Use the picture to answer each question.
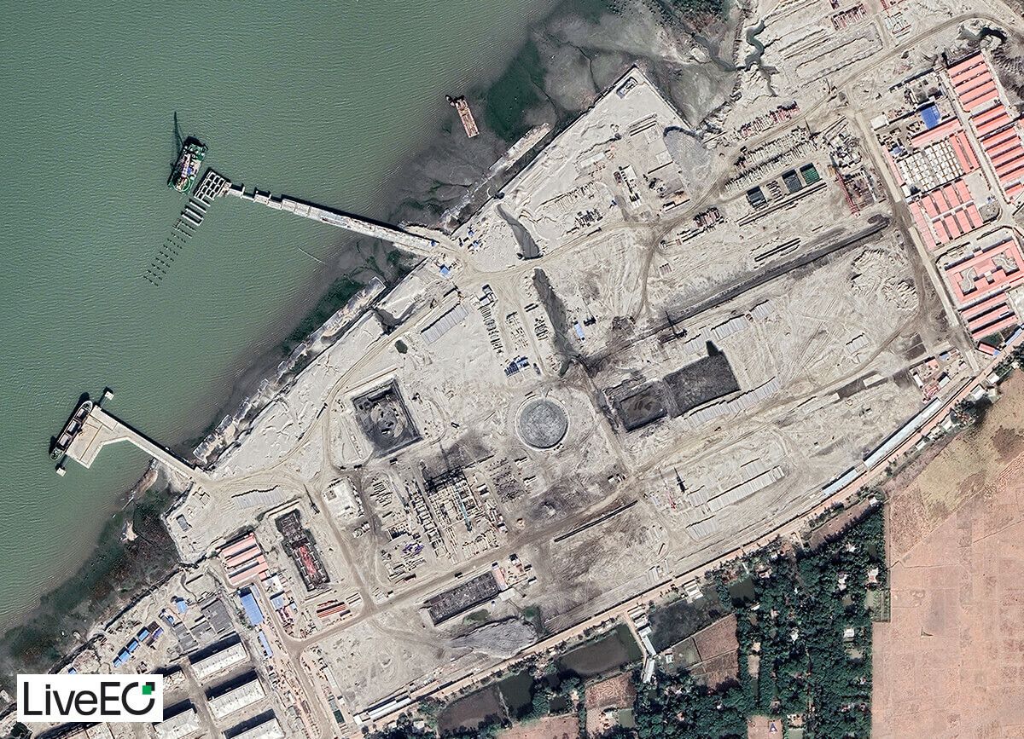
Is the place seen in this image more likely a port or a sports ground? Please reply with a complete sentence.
This image shows a port.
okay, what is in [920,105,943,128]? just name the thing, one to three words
building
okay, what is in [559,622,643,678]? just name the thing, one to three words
pond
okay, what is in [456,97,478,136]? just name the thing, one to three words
ship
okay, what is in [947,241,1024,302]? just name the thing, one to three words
building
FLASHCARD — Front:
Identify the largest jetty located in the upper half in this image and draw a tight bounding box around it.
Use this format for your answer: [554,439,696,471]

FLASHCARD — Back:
[228,185,438,252]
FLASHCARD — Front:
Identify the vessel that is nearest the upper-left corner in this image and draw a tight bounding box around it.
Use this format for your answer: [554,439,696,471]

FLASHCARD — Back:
[169,142,208,192]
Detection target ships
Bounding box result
[49,400,92,460]
[456,97,478,136]
[169,142,208,192]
